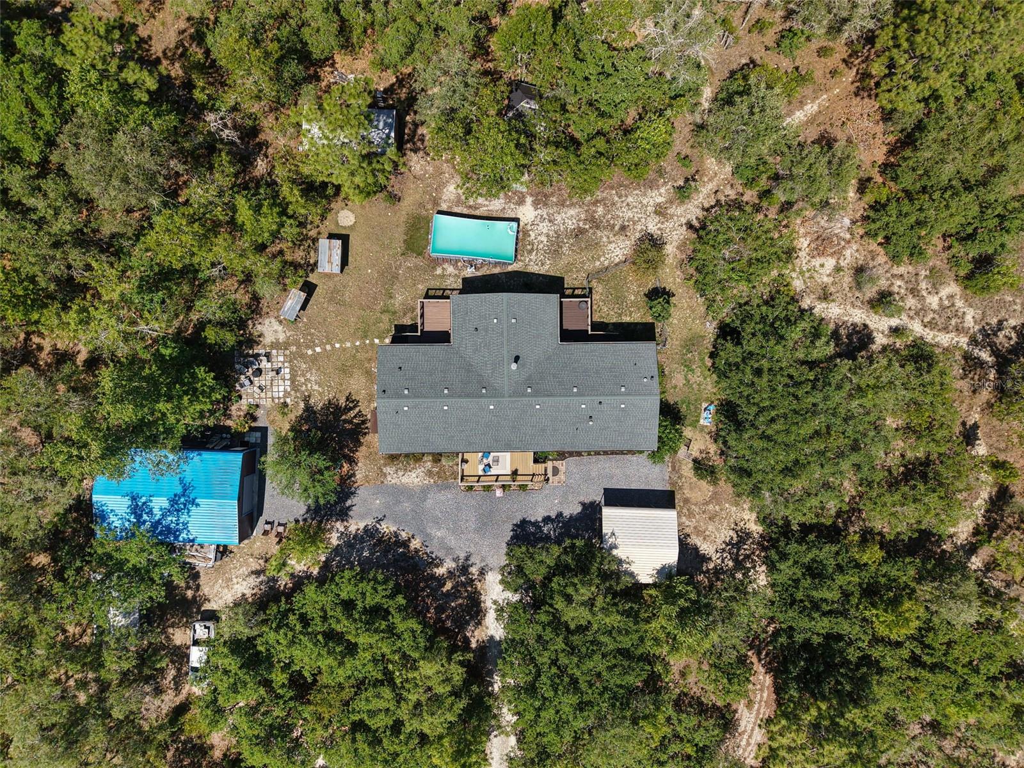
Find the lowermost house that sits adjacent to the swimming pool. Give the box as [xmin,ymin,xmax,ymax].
[376,293,659,454]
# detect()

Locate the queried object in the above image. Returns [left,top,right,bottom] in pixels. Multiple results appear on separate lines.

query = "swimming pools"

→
[428,214,522,268]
